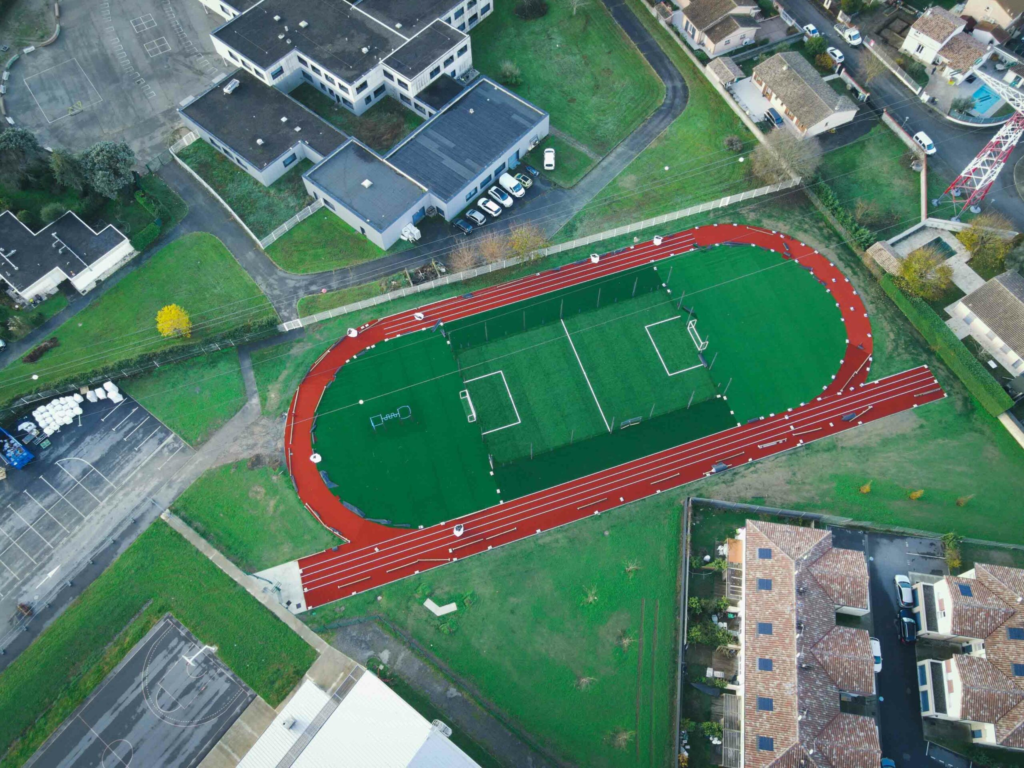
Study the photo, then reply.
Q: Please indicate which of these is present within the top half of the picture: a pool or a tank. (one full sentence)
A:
The one visible within the top half of the picture is a pool.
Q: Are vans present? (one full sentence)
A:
Yes, a van can be made out from above.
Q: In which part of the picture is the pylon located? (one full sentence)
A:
The pylon sits in the top right section of the image.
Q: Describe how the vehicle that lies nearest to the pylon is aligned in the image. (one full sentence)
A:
Seen from above, the vehicle that lies nearest to the pylon lies at an angle.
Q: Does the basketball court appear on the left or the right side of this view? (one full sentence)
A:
It is on the left.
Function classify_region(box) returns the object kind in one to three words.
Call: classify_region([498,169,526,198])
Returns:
van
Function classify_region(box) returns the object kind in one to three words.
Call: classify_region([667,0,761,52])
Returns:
house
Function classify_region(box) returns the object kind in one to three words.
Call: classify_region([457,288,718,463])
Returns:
soccer field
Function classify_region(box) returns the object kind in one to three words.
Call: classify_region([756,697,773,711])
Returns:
solar panel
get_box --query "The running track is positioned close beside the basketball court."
[284,224,947,610]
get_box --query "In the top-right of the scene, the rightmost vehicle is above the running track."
[910,127,940,156]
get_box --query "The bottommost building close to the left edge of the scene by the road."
[0,211,138,307]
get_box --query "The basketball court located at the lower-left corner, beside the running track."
[19,612,257,768]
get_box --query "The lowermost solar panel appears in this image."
[756,736,774,751]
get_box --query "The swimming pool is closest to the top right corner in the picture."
[972,85,1001,114]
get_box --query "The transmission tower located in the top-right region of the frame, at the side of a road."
[930,57,1024,218]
